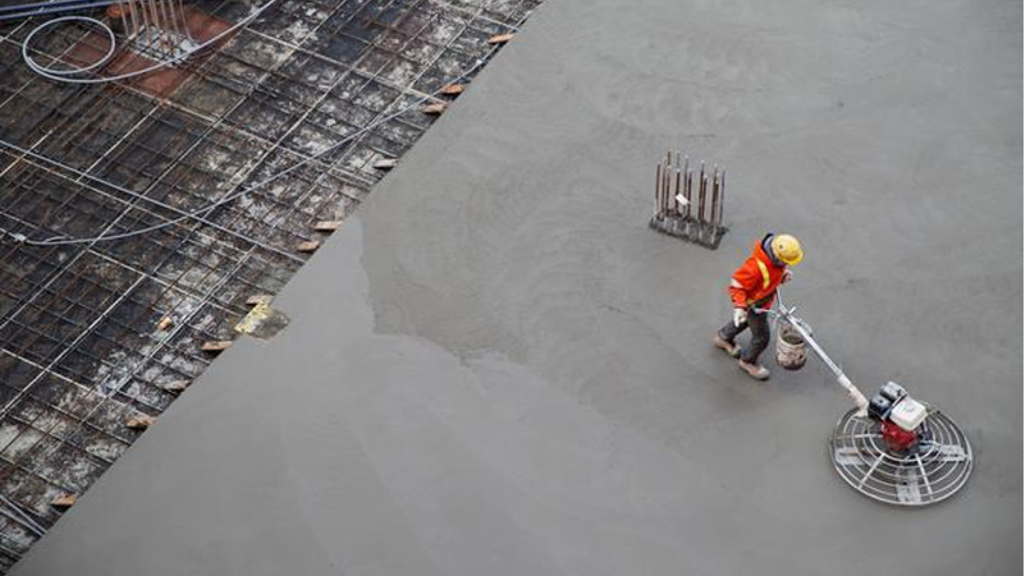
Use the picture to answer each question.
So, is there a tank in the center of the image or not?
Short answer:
No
